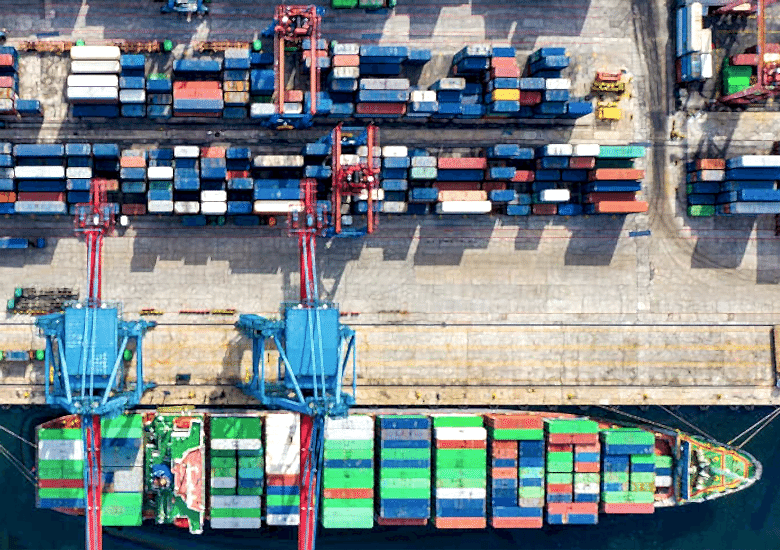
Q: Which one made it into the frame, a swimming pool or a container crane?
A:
container crane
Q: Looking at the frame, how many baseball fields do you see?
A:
0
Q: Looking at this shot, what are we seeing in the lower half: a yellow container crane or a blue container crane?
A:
blue container crane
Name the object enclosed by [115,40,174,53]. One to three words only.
vehicle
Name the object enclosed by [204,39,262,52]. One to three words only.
vehicle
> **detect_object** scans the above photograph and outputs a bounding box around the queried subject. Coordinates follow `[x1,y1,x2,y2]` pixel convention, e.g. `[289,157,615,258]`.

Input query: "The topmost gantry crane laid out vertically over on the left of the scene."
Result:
[267,0,320,130]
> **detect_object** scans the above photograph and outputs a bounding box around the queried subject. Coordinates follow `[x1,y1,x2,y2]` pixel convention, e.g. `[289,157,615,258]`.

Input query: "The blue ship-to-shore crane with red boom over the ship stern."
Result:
[42,172,163,550]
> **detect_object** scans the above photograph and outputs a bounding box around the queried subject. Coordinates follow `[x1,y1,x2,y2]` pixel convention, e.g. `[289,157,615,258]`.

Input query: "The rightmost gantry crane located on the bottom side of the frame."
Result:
[235,172,360,550]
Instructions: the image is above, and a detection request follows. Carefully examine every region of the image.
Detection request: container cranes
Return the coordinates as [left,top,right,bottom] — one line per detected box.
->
[235,172,360,550]
[320,119,377,241]
[712,0,780,113]
[42,172,163,550]
[267,0,320,130]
